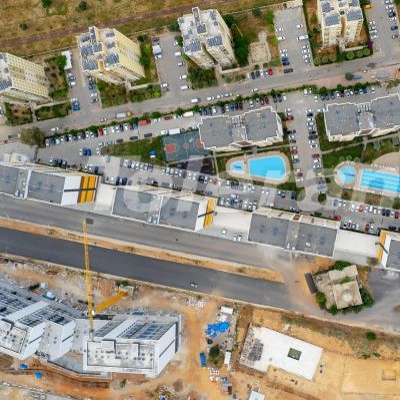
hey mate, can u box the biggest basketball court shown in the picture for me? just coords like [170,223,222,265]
[162,129,207,162]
